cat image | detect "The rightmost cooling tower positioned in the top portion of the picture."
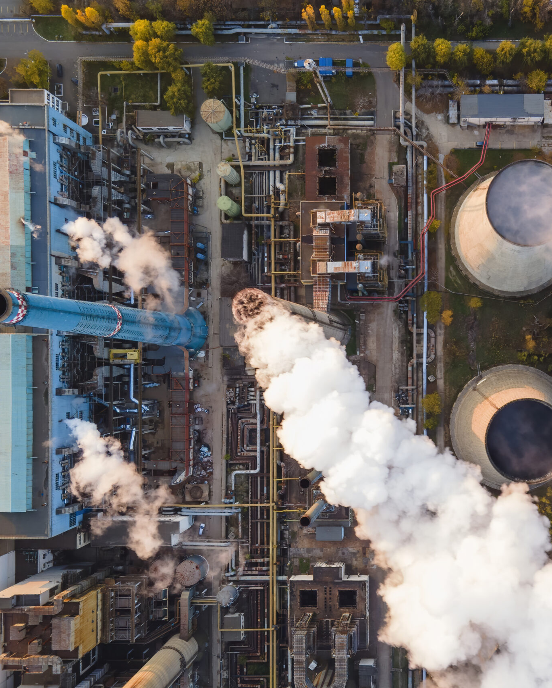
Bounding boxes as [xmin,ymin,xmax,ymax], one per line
[450,160,552,298]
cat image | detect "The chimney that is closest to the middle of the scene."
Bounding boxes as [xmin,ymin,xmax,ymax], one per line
[231,291,354,351]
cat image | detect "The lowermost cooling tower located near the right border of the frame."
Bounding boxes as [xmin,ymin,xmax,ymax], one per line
[449,364,552,493]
